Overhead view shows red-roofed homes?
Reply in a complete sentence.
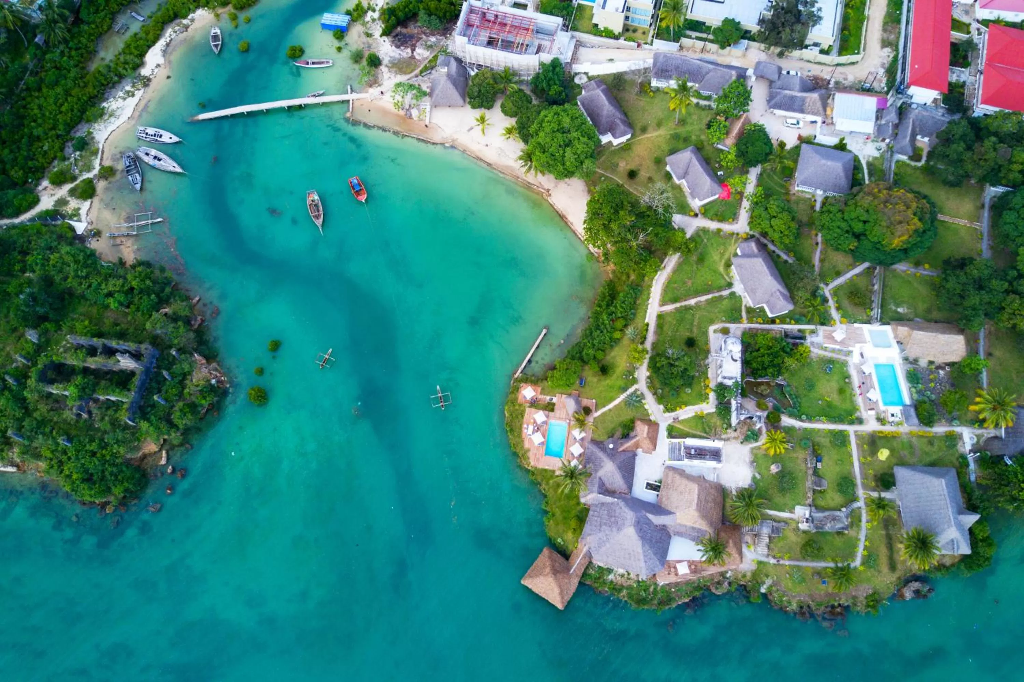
Yes, there's a red-roofed home down there.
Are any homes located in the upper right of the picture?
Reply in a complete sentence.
Yes, a home is visible in the upper right of the picture.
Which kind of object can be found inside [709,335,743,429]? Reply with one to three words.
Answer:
house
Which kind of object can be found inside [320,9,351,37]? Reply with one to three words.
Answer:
shed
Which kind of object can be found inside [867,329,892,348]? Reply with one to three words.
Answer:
swimming pool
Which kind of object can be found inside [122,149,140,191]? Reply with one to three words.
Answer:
boat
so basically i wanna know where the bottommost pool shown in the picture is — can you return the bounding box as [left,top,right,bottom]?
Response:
[543,420,570,459]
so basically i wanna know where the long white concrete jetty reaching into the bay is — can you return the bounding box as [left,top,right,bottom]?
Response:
[191,94,369,125]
